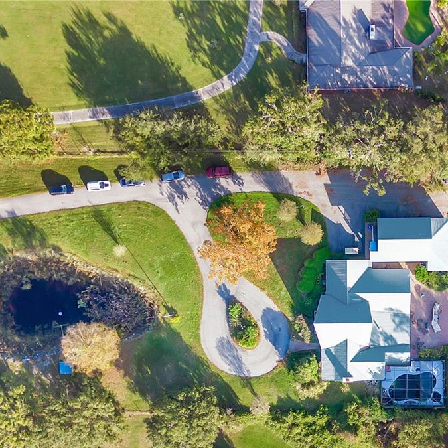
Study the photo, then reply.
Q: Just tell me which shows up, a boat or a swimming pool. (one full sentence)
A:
The one in the frame is a swimming pool.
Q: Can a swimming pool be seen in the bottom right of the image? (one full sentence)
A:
Yes, you'll find a swimming pool in the bottom right of the image.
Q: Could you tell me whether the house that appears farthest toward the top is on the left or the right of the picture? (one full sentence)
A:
You can find the house that appears farthest toward the top on the right side of the picture.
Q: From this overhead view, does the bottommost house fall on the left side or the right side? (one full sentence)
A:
The bottommost house sits on the right side.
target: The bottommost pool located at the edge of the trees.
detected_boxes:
[388,371,441,403]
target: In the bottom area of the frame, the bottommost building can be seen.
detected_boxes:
[313,259,411,384]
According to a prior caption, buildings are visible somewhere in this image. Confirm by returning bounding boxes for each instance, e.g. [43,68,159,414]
[299,0,414,90]
[313,259,411,384]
